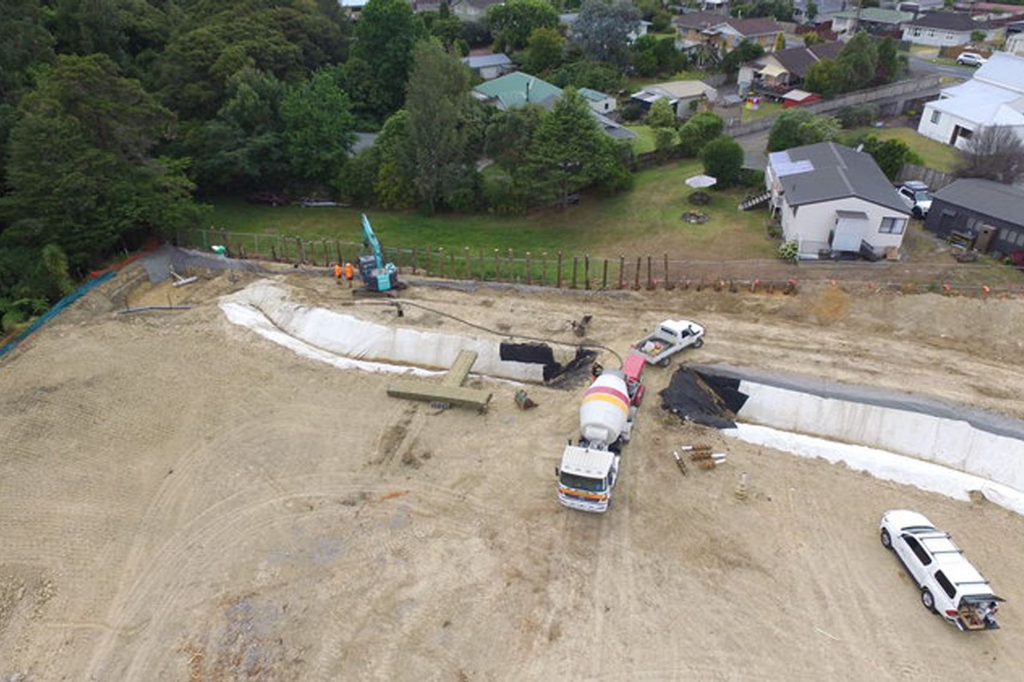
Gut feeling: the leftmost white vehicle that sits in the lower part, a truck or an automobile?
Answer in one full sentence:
The leftmost white vehicle that sits in the lower part in the image is a truck.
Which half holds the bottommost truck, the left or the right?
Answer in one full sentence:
The bottommost truck appears in the right half of the scene.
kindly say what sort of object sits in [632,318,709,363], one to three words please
truck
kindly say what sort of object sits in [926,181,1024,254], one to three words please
shed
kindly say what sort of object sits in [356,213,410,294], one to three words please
work vehicle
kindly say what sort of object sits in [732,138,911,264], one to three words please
house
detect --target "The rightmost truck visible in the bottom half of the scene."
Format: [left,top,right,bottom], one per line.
[878,516,1008,637]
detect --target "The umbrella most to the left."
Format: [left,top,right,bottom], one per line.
[688,176,720,201]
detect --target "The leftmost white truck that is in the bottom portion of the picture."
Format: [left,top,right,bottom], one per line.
[554,373,632,515]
